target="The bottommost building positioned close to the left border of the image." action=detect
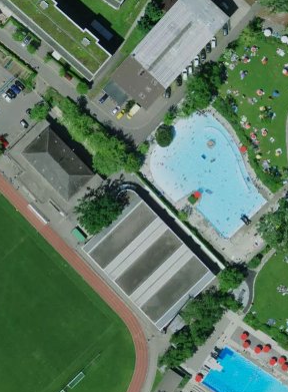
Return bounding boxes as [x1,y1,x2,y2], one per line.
[9,119,104,214]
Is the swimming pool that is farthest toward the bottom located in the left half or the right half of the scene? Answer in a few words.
right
